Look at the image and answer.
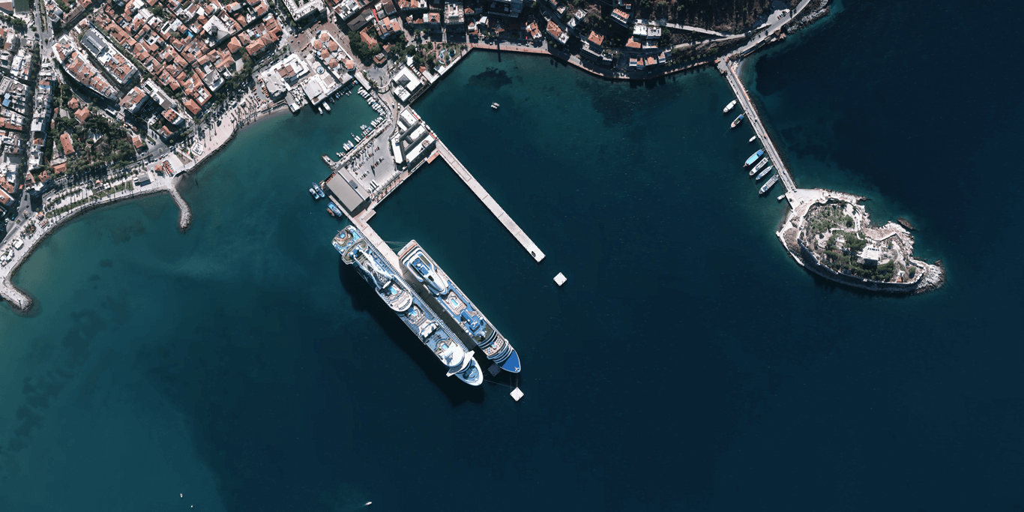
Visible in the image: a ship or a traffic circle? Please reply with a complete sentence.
It is a ship that can be seen here.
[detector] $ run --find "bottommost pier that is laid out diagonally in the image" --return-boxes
[349,218,477,353]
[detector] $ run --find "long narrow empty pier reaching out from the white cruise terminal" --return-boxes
[436,138,545,262]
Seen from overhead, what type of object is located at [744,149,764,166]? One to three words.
boat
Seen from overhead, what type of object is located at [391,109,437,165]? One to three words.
building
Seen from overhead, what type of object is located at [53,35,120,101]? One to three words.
building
